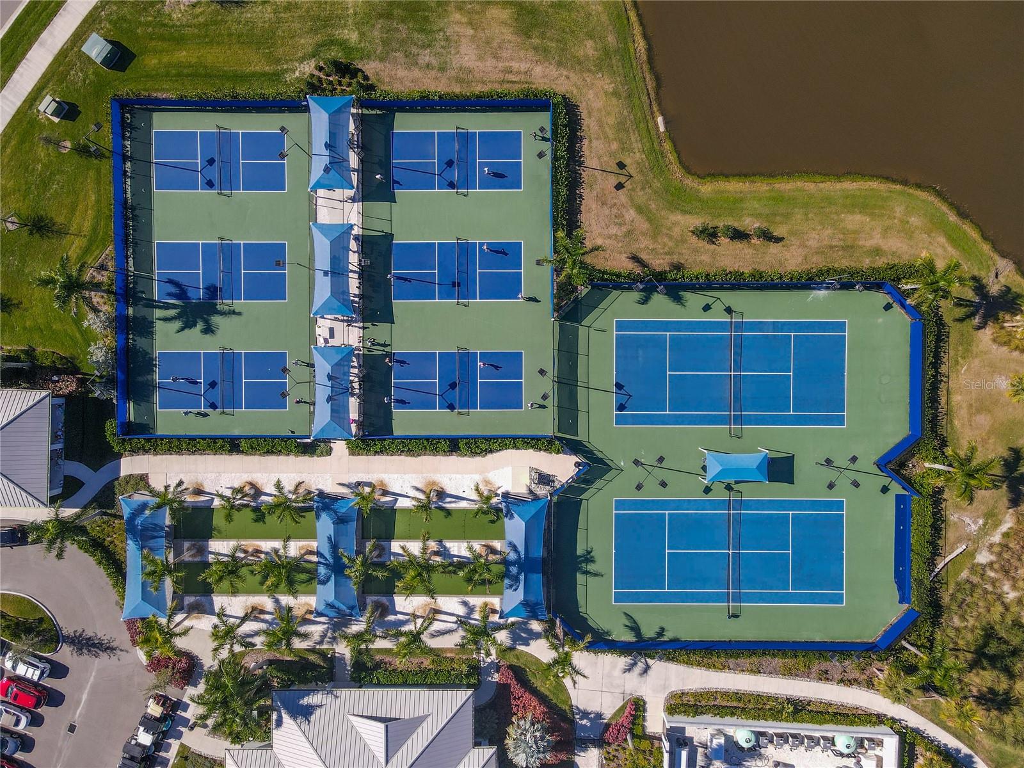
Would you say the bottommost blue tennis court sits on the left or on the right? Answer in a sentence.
The bottommost blue tennis court sits on the right side.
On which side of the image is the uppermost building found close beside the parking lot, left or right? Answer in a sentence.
It is on the left.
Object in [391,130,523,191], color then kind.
blue sports court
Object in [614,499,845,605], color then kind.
blue tennis court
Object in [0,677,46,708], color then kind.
red car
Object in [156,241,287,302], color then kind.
blue sports court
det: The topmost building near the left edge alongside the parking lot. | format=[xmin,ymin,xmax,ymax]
[0,388,66,509]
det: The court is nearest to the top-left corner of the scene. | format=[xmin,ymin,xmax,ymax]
[154,130,285,191]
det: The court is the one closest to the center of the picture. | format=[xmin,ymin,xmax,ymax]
[393,350,523,411]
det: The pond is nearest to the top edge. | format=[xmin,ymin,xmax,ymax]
[637,0,1024,273]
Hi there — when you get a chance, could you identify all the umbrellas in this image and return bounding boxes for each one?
[734,728,756,750]
[834,733,856,755]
